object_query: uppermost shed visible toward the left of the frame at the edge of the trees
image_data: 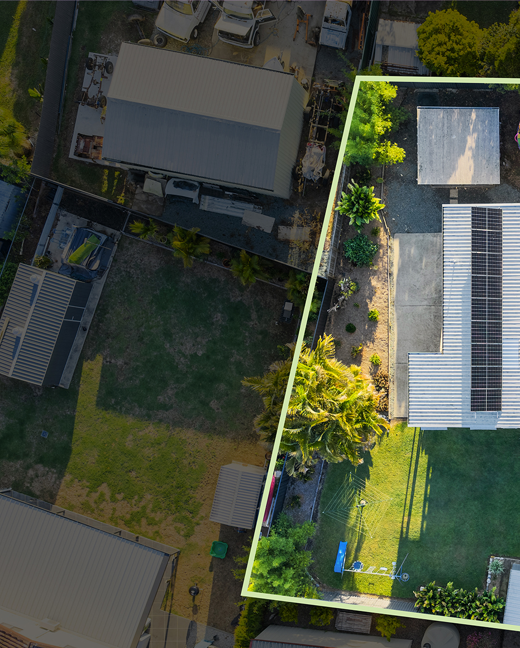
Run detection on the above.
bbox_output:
[100,40,309,201]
